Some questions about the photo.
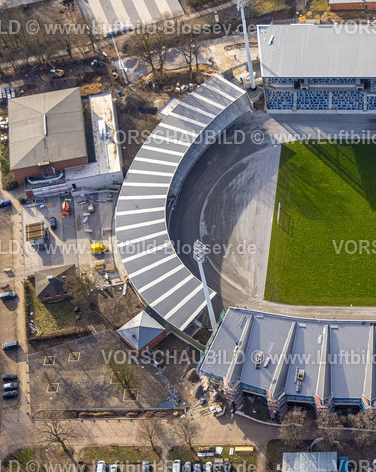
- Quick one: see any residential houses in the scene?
Yes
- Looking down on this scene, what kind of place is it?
sports ground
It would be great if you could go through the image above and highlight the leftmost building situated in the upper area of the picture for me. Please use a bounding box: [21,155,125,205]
[5,88,89,181]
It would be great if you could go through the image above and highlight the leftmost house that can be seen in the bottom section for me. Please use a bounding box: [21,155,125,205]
[34,265,75,303]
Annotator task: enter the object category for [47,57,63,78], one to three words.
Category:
work vehicle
